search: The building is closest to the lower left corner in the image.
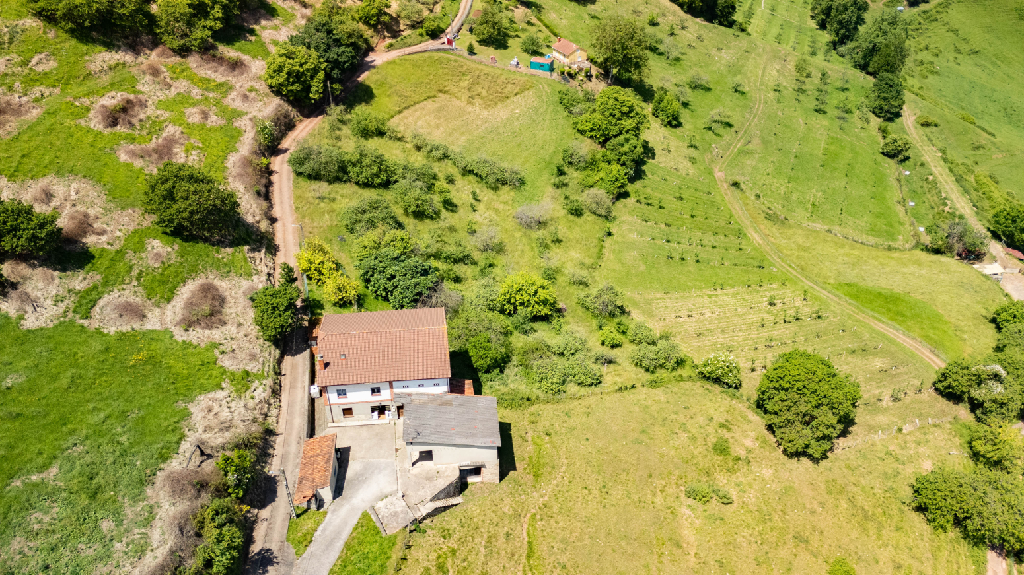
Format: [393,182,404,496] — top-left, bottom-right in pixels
[294,432,338,517]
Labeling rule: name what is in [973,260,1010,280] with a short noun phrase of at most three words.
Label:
shed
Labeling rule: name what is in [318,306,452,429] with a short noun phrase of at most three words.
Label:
house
